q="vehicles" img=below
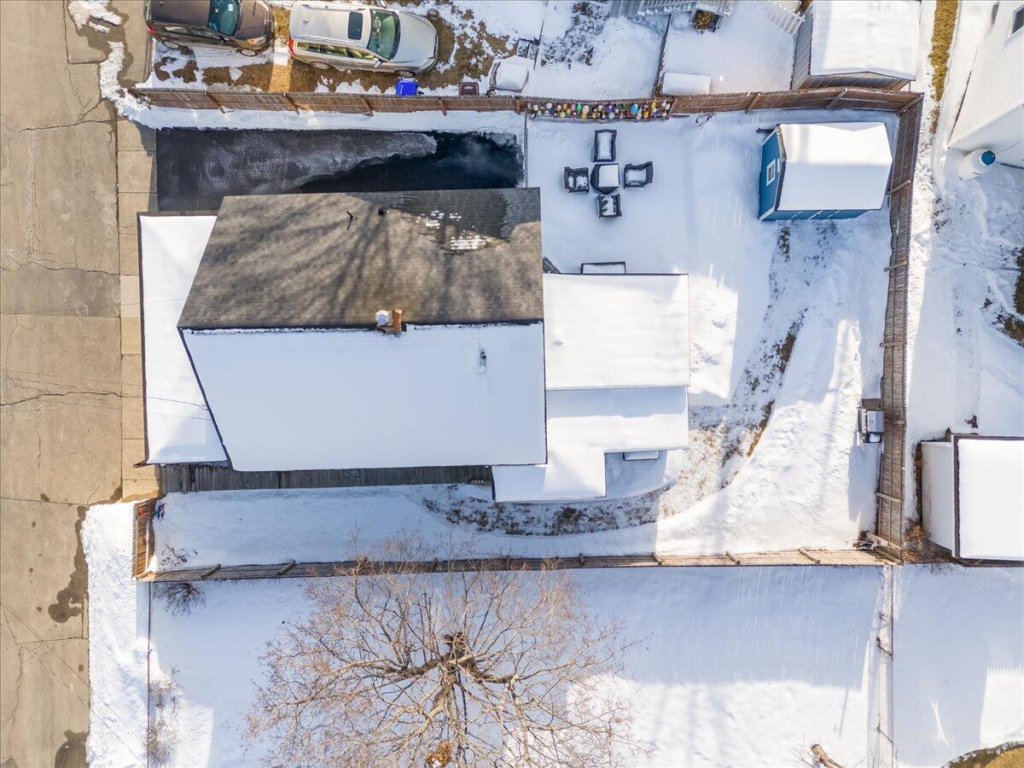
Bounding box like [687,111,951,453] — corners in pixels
[286,0,440,72]
[144,0,281,49]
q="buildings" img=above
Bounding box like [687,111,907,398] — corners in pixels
[793,0,919,92]
[922,434,1024,562]
[761,122,892,220]
[949,0,1024,169]
[137,186,689,502]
